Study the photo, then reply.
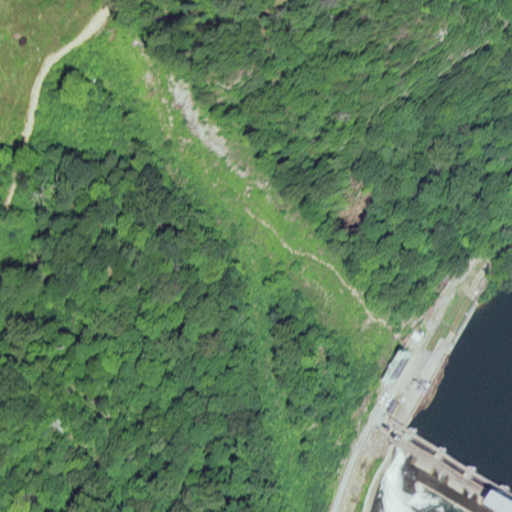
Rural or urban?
rural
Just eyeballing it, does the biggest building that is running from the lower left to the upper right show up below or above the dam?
above it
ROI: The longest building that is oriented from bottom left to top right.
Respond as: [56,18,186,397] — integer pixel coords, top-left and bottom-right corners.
[382,350,412,387]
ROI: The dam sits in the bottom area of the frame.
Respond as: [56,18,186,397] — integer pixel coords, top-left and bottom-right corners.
[389,421,512,512]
